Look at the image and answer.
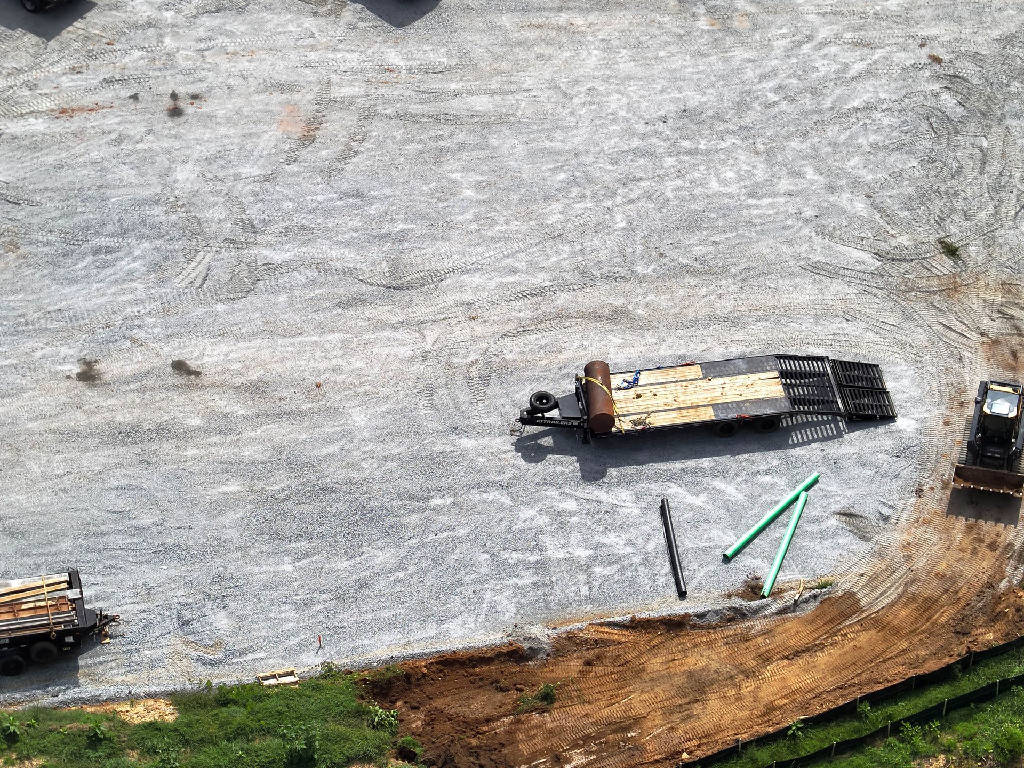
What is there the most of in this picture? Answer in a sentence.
What you mostly see from above here is paved ground.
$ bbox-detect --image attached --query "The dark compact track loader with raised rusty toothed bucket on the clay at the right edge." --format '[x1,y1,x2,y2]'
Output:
[953,379,1024,499]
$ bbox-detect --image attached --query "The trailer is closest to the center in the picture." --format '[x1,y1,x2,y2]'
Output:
[508,355,899,448]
